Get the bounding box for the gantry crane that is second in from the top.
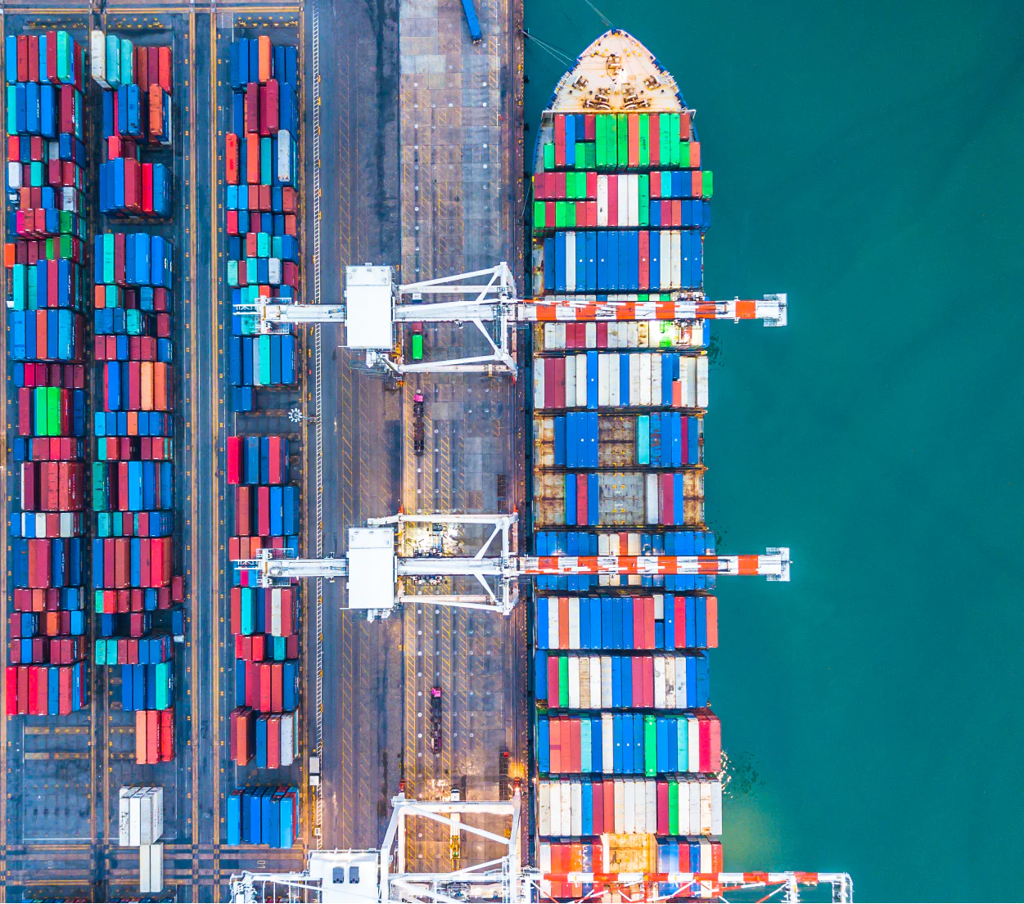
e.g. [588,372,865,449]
[233,506,787,634]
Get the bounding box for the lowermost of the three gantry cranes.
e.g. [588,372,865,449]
[235,781,855,904]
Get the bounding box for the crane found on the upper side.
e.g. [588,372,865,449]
[231,260,784,397]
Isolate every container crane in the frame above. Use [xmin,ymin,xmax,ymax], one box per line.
[231,260,784,397]
[235,781,855,904]
[233,506,787,634]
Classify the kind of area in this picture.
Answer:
port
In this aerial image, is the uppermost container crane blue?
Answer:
No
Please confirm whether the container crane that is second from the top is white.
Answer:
Yes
